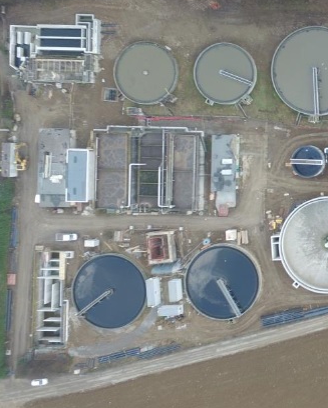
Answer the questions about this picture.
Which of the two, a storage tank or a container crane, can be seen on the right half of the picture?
storage tank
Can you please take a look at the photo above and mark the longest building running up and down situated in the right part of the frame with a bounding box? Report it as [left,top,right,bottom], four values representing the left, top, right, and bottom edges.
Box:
[211,136,241,208]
